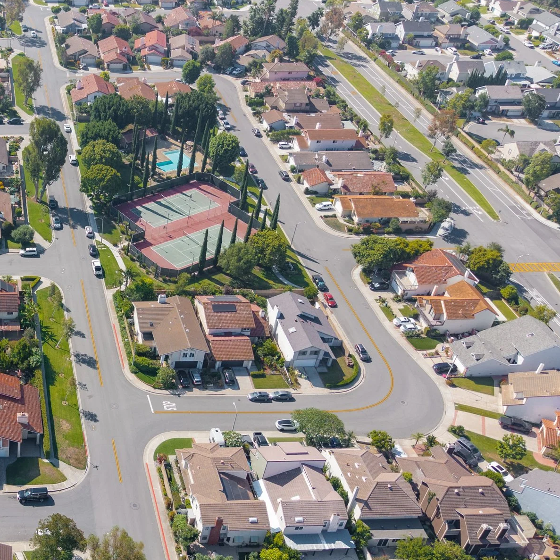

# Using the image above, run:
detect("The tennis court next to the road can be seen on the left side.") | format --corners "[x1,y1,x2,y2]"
[124,180,257,266]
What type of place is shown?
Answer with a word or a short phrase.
residential area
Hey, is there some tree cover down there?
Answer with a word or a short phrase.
Yes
